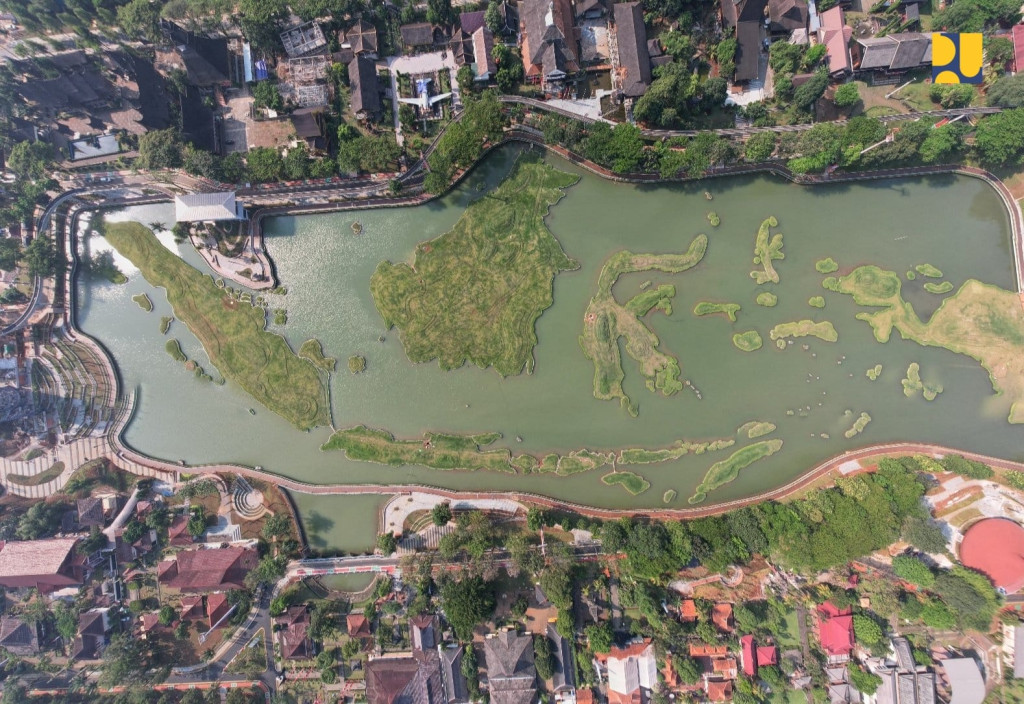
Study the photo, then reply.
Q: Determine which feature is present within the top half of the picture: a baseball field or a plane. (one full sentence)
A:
There is a plane within the top half of the picture.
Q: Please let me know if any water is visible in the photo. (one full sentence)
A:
Yes, water can be seen from above here.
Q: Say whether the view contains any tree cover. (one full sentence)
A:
Yes, tree cover can be seen from above here.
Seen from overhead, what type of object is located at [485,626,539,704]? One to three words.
house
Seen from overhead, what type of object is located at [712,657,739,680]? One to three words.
house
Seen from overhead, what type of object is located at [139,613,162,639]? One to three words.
shed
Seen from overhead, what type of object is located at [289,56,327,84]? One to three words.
building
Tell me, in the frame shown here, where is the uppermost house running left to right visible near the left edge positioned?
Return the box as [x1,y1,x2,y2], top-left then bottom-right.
[48,49,93,72]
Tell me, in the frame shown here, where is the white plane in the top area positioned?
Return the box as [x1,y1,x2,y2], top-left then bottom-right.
[398,75,452,112]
